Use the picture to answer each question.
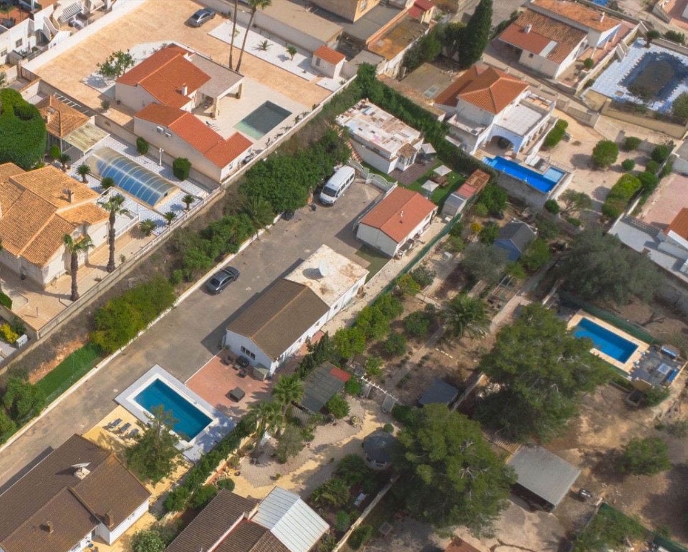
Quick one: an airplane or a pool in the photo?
pool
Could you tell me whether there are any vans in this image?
Yes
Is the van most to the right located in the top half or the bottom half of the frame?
top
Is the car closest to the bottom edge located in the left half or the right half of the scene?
left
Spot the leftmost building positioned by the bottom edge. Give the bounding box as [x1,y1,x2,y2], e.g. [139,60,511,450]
[0,434,152,552]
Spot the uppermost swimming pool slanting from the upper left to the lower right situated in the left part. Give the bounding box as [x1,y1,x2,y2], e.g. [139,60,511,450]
[85,147,177,210]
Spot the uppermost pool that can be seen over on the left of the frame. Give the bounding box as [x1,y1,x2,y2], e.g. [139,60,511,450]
[234,100,291,140]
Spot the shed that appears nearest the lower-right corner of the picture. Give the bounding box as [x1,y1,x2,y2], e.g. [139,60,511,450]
[505,444,581,520]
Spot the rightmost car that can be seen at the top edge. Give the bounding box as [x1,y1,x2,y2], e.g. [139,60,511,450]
[189,8,210,26]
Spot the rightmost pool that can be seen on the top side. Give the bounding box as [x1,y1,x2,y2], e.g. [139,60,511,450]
[619,51,688,103]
